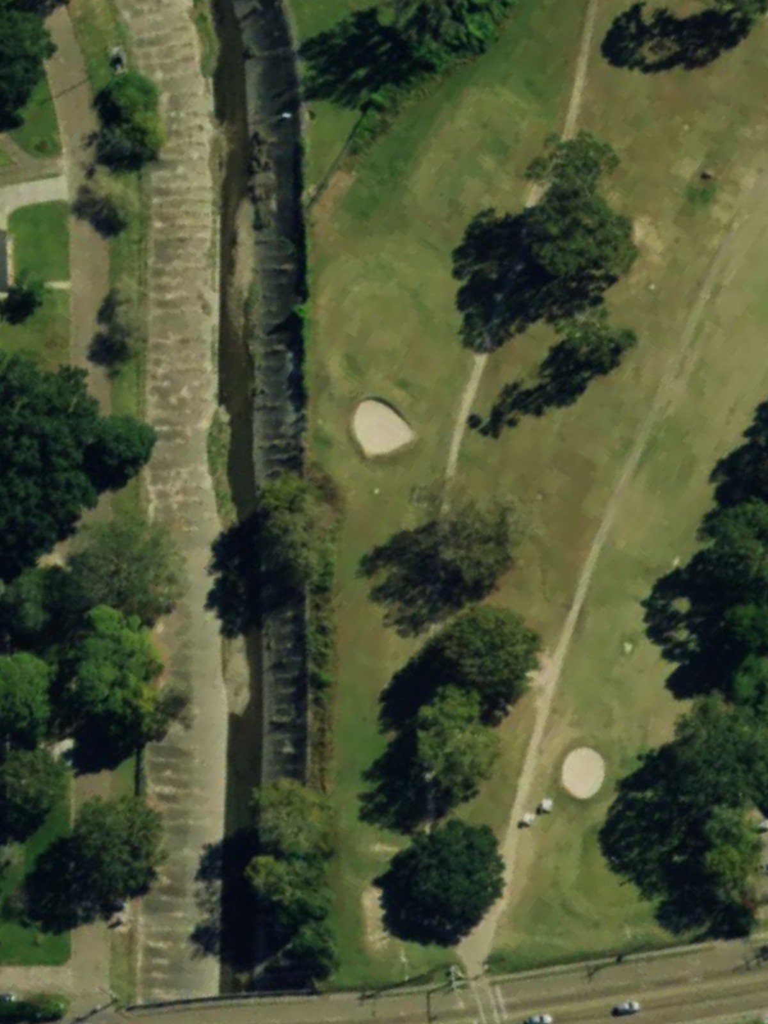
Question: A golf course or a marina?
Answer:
golf course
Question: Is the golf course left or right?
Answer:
right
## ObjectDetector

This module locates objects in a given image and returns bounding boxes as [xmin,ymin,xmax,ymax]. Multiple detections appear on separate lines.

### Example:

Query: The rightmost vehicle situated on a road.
[612,1001,643,1016]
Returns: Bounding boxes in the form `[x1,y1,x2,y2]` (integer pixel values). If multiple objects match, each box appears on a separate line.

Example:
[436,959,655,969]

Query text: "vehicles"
[760,822,768,830]
[523,811,534,825]
[540,798,552,811]
[522,1013,553,1024]
[612,1001,643,1016]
